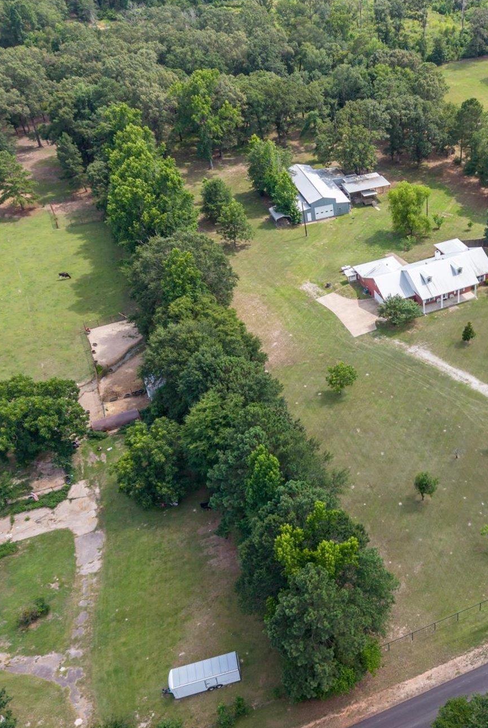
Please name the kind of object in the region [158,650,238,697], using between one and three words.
trailer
